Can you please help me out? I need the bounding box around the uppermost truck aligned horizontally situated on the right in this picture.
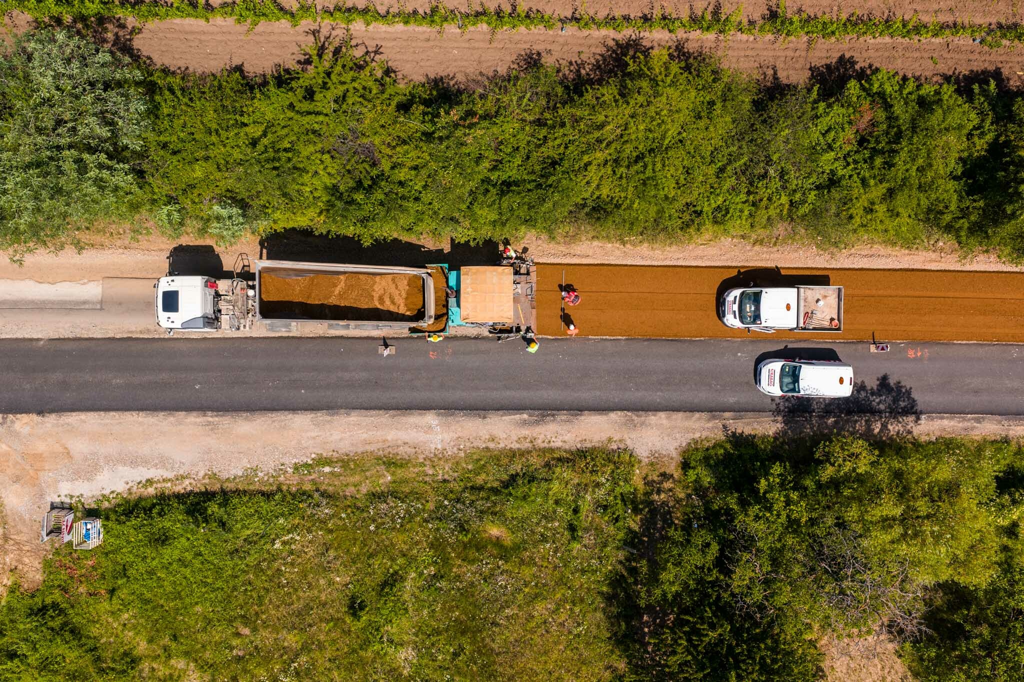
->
[719,282,844,336]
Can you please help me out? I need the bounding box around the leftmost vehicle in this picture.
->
[156,253,260,334]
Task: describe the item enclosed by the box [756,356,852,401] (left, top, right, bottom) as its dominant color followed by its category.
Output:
white van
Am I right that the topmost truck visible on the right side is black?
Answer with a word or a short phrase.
No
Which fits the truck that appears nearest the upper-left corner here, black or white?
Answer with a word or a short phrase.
white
